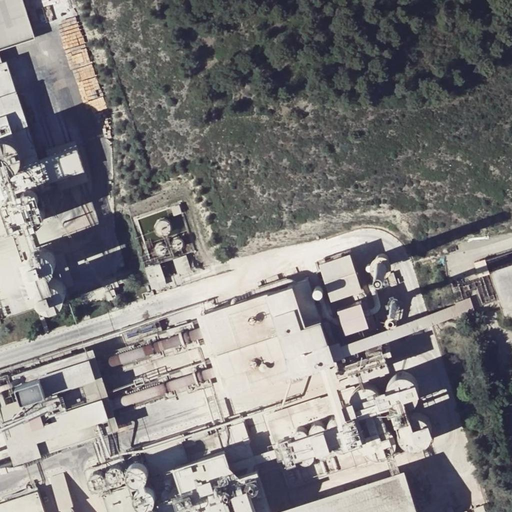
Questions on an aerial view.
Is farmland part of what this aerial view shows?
No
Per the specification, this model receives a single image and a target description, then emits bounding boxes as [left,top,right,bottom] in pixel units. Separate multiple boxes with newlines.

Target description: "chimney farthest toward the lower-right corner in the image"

[382,290,402,330]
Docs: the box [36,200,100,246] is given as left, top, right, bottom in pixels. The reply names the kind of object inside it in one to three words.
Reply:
shed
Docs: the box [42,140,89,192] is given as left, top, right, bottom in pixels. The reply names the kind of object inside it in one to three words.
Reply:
building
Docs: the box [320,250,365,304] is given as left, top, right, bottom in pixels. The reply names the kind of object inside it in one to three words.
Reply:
shed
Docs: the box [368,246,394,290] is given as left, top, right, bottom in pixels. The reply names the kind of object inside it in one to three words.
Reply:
chimney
